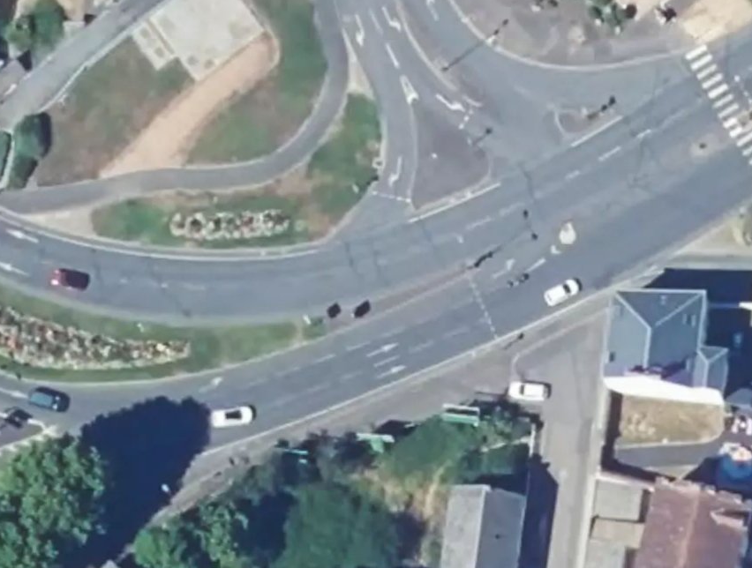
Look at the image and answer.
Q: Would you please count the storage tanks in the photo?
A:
0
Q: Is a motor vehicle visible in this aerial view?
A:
Yes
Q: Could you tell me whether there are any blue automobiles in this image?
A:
Yes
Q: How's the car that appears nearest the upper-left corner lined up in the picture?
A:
from side to side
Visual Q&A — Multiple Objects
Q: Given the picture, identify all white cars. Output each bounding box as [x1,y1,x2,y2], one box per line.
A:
[509,380,548,401]
[212,405,254,427]
[543,279,582,306]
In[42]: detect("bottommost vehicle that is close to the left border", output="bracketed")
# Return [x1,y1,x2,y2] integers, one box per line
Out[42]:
[29,388,69,410]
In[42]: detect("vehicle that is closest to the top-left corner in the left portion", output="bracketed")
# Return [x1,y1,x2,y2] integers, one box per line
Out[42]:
[52,268,89,289]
